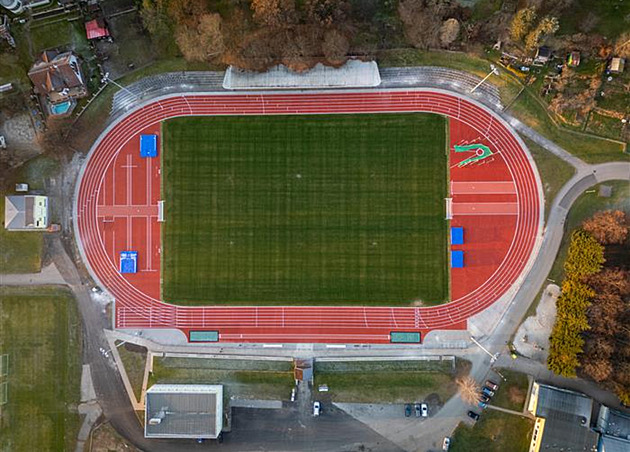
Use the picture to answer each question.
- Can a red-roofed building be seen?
Yes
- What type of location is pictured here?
sports ground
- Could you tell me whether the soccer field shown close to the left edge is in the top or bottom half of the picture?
bottom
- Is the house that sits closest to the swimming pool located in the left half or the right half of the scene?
left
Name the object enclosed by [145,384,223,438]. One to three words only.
building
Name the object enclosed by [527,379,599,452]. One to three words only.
building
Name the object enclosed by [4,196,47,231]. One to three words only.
house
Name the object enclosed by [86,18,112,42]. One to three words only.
house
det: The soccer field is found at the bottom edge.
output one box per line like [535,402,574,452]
[0,293,79,452]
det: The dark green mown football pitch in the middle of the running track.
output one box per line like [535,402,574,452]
[161,113,450,306]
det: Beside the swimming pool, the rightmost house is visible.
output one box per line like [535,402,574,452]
[28,48,84,103]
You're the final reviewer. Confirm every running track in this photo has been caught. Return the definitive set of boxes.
[74,88,544,344]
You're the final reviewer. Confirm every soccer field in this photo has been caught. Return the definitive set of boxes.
[0,293,79,452]
[161,113,450,306]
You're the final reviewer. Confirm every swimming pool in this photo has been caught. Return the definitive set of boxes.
[48,97,77,116]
